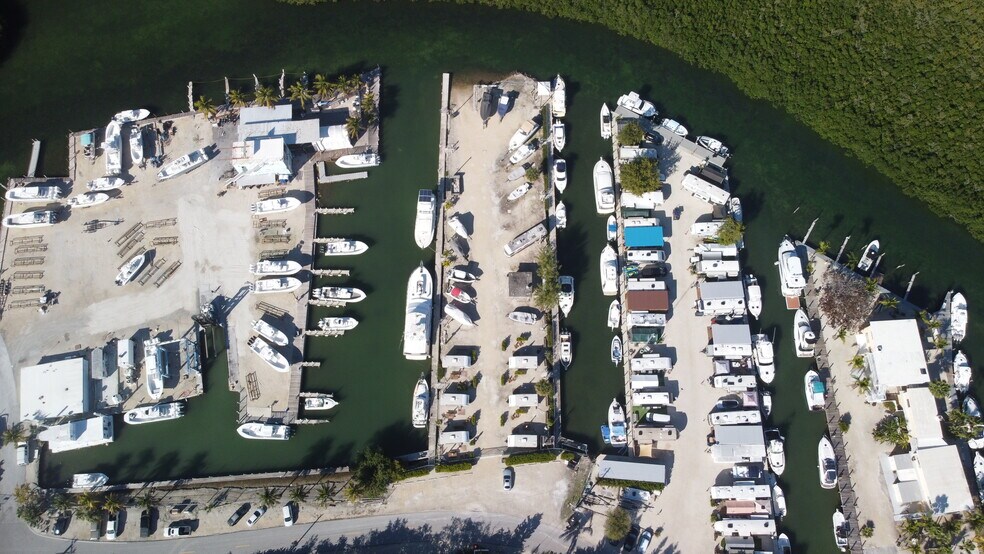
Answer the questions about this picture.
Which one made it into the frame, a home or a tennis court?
home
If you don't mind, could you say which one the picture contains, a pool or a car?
car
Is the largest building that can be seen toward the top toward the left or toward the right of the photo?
left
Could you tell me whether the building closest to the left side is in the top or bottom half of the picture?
bottom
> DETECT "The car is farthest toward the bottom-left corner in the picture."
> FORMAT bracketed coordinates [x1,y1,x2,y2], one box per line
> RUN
[54,515,69,535]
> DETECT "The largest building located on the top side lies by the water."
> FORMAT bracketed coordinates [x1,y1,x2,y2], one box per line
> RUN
[221,104,323,192]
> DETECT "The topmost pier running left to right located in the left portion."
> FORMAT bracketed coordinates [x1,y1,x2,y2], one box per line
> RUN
[67,111,195,136]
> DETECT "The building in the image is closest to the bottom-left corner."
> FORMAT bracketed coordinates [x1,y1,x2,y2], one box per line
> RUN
[19,357,93,421]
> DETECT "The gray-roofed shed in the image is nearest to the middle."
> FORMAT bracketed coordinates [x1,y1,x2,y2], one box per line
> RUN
[509,272,532,299]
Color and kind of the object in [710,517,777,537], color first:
white camper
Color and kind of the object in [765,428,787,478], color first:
white boat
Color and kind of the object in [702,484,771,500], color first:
white trailer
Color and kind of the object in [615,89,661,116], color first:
white boat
